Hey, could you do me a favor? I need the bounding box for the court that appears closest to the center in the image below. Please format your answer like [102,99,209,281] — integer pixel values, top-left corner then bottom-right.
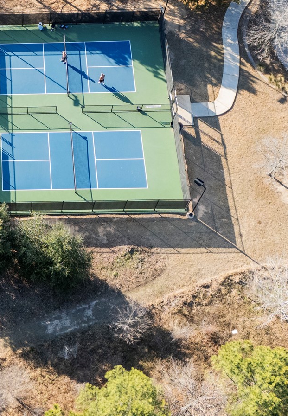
[1,131,148,191]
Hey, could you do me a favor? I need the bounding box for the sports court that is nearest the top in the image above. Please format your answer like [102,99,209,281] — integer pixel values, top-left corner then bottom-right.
[0,41,136,94]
